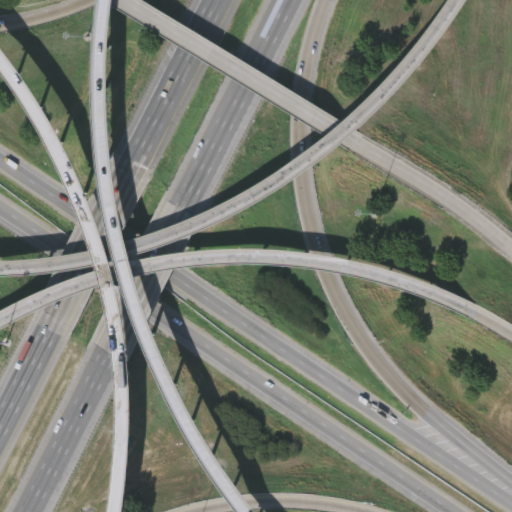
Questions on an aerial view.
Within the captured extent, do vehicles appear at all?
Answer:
Yes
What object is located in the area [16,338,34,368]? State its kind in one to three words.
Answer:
vehicle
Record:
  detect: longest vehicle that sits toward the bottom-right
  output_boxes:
[370,404,388,418]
